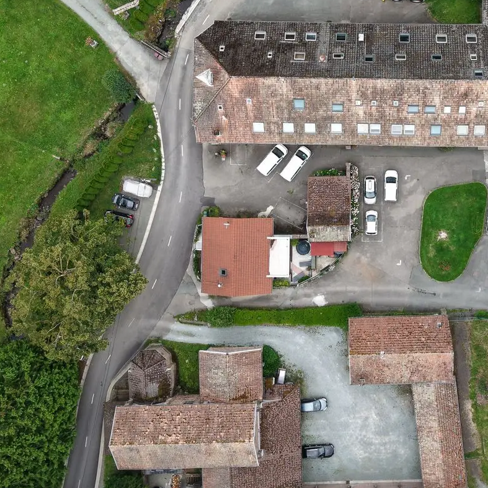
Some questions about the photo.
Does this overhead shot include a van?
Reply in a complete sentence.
Yes, there's a van down there.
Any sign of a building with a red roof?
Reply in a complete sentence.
Yes, I can see a building with a red roof in this picture.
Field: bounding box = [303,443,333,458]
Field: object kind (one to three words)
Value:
car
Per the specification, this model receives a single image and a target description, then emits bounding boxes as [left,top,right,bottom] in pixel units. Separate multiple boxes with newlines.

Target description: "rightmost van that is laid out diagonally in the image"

[280,146,310,181]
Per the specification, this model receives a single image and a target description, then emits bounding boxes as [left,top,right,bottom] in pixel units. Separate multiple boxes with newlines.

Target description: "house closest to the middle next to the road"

[193,216,274,296]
